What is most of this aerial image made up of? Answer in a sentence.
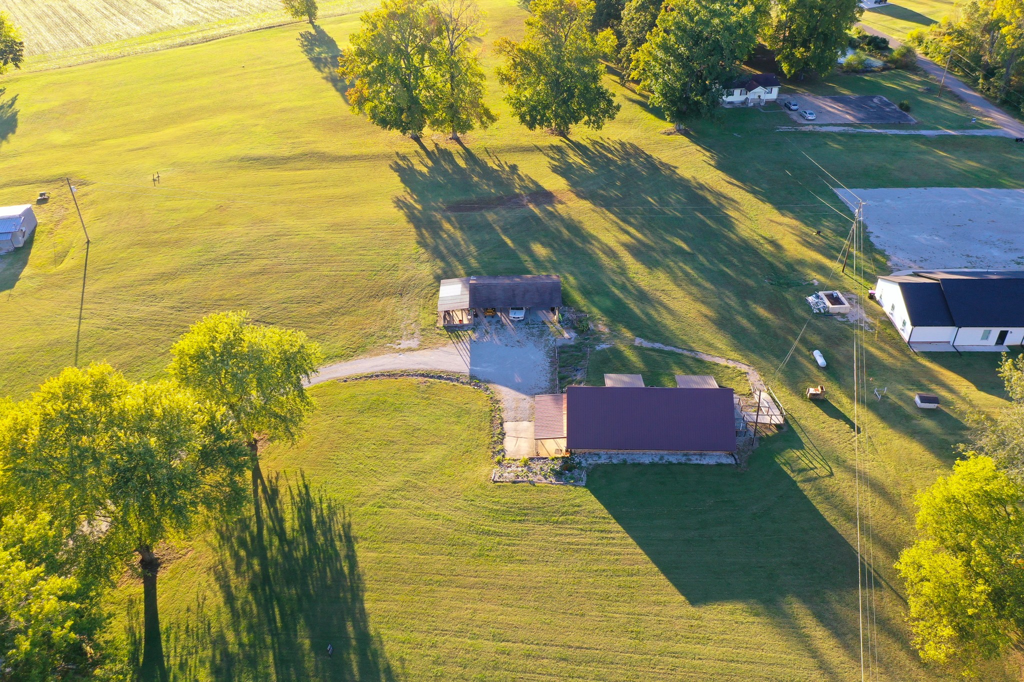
The largest share of the image is taken up by grass.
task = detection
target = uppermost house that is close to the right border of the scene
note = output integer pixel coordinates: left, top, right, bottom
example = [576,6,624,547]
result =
[870,266,1024,356]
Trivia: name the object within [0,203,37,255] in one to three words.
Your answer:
shed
